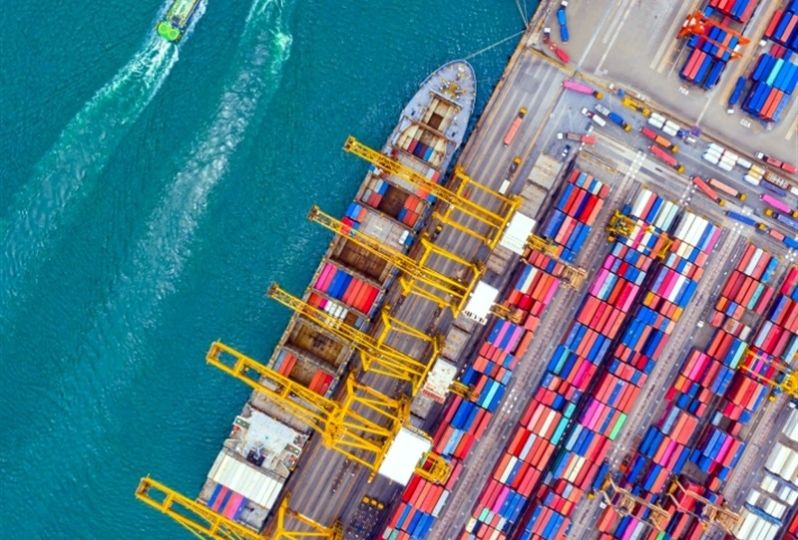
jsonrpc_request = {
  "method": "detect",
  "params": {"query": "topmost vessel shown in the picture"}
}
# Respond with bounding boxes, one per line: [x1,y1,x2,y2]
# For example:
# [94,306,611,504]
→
[158,0,204,42]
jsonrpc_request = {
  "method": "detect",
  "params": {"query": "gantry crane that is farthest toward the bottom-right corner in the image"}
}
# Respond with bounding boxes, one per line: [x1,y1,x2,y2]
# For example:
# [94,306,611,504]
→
[664,475,745,536]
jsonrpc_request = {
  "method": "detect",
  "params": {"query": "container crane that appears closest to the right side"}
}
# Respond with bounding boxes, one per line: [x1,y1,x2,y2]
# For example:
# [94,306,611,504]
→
[728,346,798,397]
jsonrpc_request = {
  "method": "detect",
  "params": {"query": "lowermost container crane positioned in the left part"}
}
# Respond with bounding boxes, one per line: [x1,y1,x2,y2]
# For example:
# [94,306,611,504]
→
[142,482,345,540]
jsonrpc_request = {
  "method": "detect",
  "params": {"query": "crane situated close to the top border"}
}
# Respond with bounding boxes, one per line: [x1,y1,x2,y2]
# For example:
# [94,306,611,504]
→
[666,8,756,69]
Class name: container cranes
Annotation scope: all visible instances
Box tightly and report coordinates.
[664,475,745,536]
[310,205,528,328]
[209,345,453,486]
[600,474,677,534]
[666,8,756,69]
[142,482,345,540]
[515,241,590,292]
[271,285,486,404]
[598,204,679,258]
[728,346,798,397]
[344,131,566,258]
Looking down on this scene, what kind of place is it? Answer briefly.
port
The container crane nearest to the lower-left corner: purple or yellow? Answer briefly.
yellow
